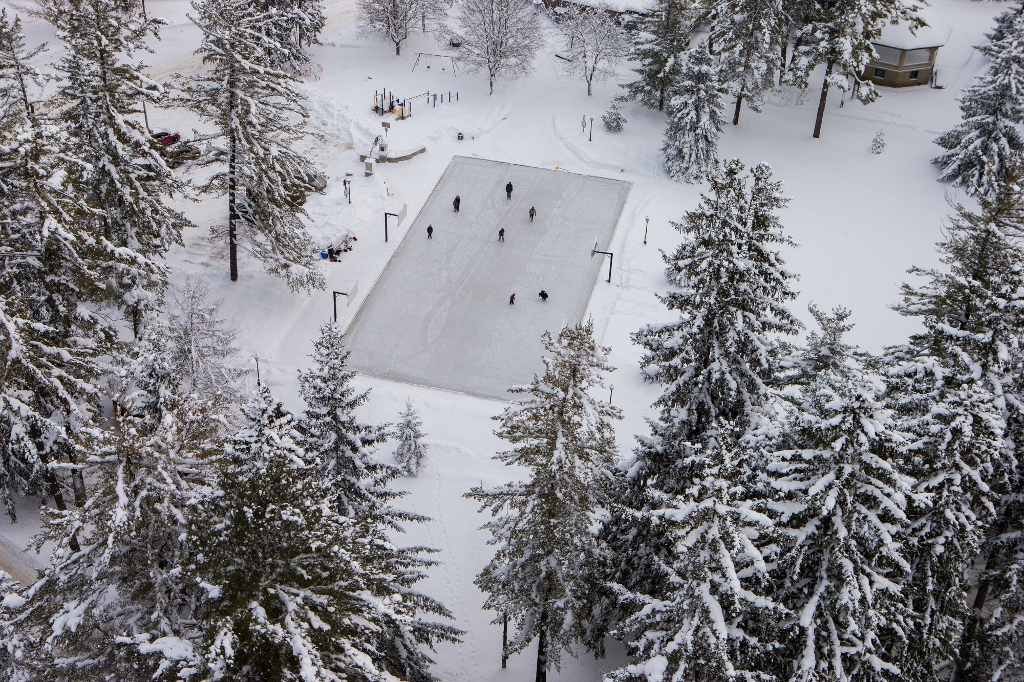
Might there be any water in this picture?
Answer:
No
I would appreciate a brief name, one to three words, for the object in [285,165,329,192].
car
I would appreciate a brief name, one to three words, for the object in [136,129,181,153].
car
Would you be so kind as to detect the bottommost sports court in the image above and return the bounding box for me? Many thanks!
[342,157,633,406]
